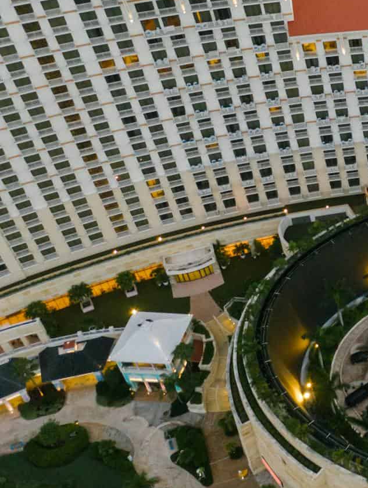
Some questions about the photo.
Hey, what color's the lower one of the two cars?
black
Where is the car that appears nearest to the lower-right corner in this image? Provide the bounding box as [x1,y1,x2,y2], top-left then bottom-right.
[343,383,368,407]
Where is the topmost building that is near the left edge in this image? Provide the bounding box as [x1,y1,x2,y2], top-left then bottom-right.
[0,317,54,359]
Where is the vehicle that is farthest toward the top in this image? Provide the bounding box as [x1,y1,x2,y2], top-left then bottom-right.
[347,348,368,363]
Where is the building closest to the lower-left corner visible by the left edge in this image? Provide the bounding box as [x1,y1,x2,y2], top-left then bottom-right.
[0,359,42,418]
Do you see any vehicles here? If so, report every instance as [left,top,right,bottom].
[343,383,368,407]
[347,348,368,363]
